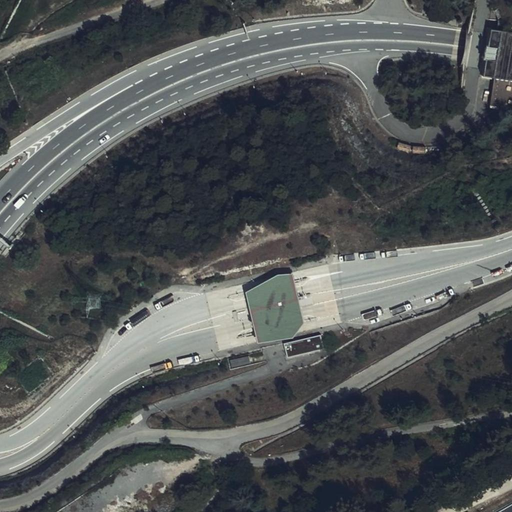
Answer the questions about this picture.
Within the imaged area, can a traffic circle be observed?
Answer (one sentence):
Yes, the frame does contain a traffic circle.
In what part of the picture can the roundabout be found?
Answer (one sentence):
You can find the roundabout in the top right area of the picture.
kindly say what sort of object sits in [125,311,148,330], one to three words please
vehicle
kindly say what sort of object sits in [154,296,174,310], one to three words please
vehicle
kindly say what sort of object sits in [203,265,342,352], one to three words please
toll station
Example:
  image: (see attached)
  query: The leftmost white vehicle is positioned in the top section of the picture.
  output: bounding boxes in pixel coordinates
[12,194,29,210]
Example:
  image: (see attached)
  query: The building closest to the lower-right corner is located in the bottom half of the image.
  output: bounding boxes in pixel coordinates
[284,334,323,358]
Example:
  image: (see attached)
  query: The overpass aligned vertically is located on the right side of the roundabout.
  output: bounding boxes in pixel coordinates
[463,8,490,88]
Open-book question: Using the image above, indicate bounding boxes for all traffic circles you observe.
[320,57,460,148]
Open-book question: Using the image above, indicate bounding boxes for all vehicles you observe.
[98,135,110,143]
[370,318,380,324]
[118,327,127,335]
[484,90,489,102]
[380,252,398,259]
[12,194,29,210]
[338,255,356,263]
[359,253,376,262]
[480,268,504,277]
[125,311,148,330]
[361,310,382,320]
[154,296,174,310]
[2,193,12,202]
[127,414,143,426]
[150,362,172,372]
[389,304,412,316]
[434,290,455,300]
[414,146,435,155]
[425,297,436,302]
[178,356,200,366]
